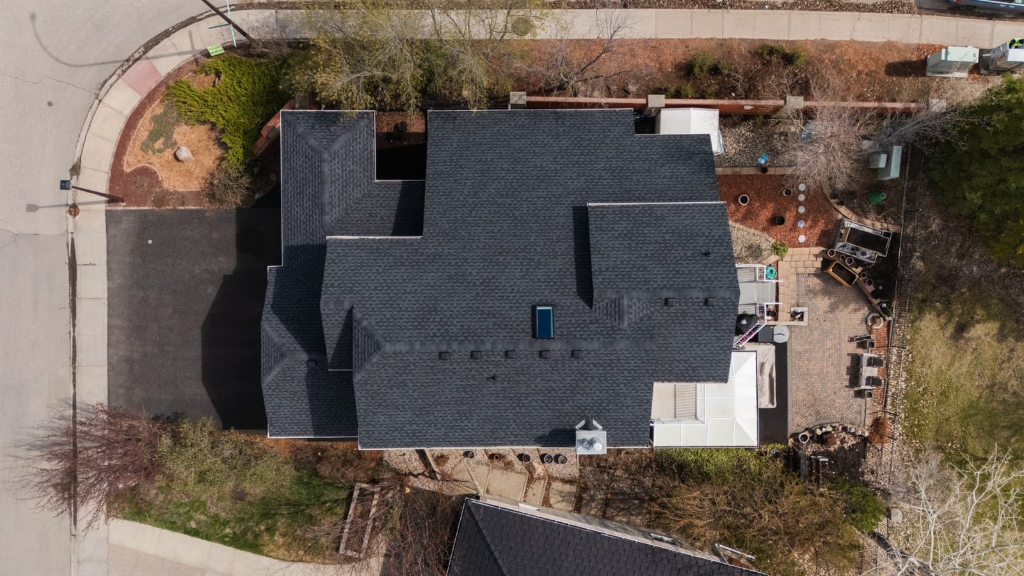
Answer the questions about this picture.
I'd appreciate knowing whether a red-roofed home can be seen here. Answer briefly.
No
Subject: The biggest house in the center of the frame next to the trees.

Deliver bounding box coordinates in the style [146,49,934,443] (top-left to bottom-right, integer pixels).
[259,107,738,454]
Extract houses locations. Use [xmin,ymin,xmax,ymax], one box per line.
[259,107,738,454]
[448,484,832,576]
